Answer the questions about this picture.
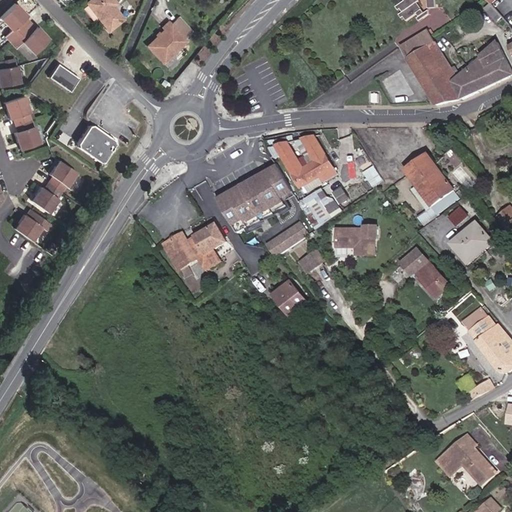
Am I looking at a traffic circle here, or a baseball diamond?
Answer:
traffic circle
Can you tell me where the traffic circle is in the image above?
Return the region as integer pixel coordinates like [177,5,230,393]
[154,94,220,161]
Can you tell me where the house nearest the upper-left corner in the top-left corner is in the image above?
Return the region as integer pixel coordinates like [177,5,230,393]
[1,4,34,48]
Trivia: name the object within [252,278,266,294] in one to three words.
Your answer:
vehicle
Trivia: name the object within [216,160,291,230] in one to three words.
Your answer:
building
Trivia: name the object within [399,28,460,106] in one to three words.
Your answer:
barn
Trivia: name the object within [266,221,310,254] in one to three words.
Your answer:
shed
